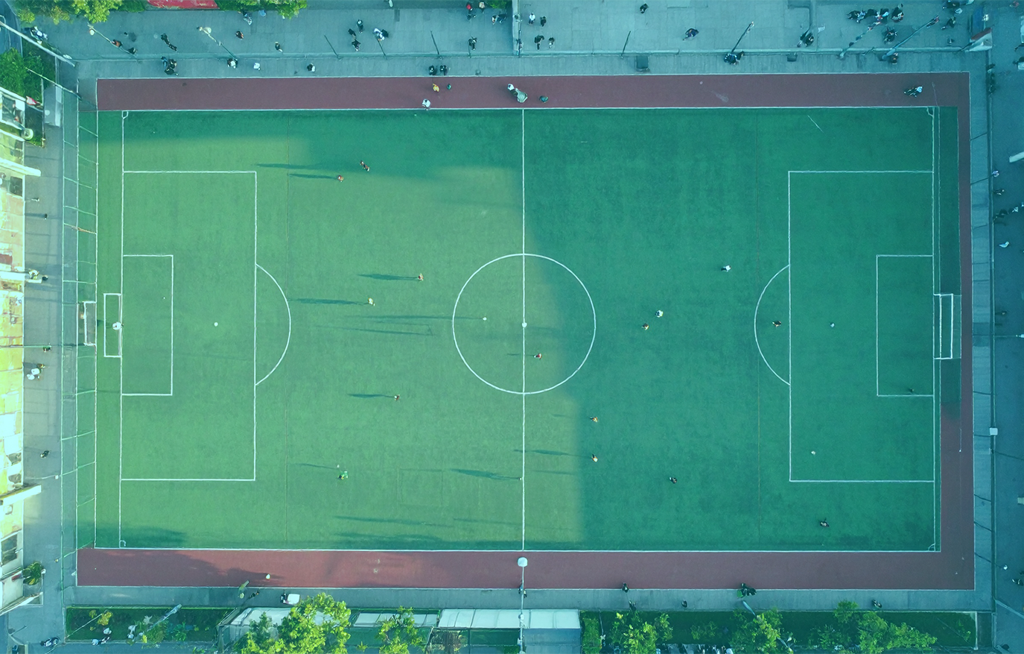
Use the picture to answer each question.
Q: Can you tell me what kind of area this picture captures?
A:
sports ground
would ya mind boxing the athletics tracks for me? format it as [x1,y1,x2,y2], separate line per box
[77,72,975,590]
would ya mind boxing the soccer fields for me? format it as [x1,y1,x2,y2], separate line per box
[76,84,962,585]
